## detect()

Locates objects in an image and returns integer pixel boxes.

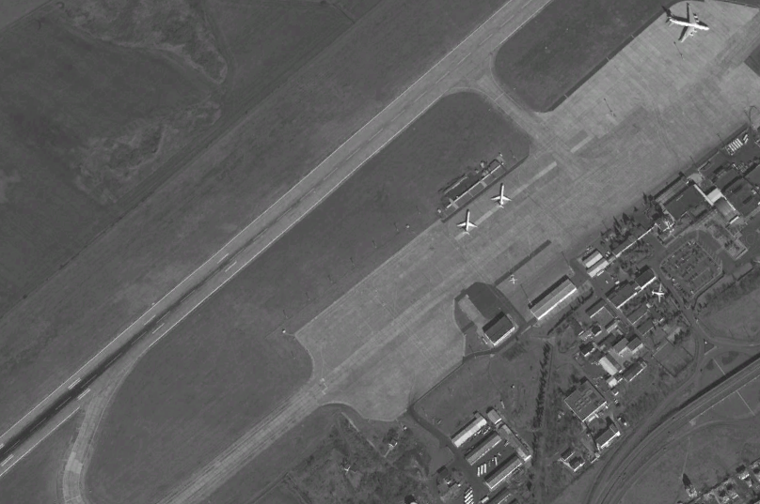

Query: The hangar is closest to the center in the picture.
[486,314,515,345]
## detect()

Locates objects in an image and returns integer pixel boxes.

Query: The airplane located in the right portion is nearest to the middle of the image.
[459,211,479,233]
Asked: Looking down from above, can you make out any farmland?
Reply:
Yes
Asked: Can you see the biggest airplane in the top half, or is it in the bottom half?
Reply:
top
